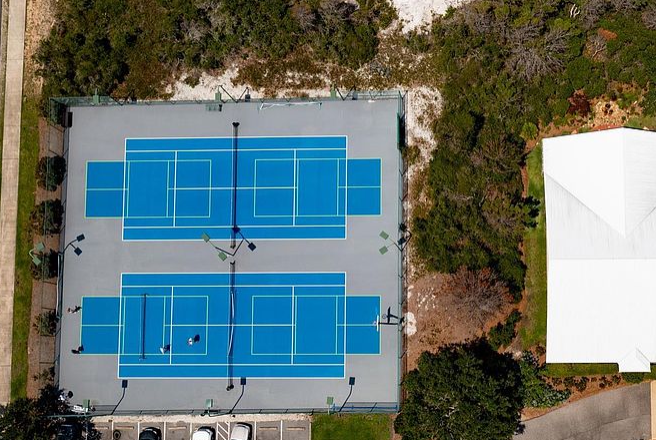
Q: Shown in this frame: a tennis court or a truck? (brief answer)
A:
tennis court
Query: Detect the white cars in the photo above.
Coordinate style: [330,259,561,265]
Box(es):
[231,424,251,440]
[193,427,214,440]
